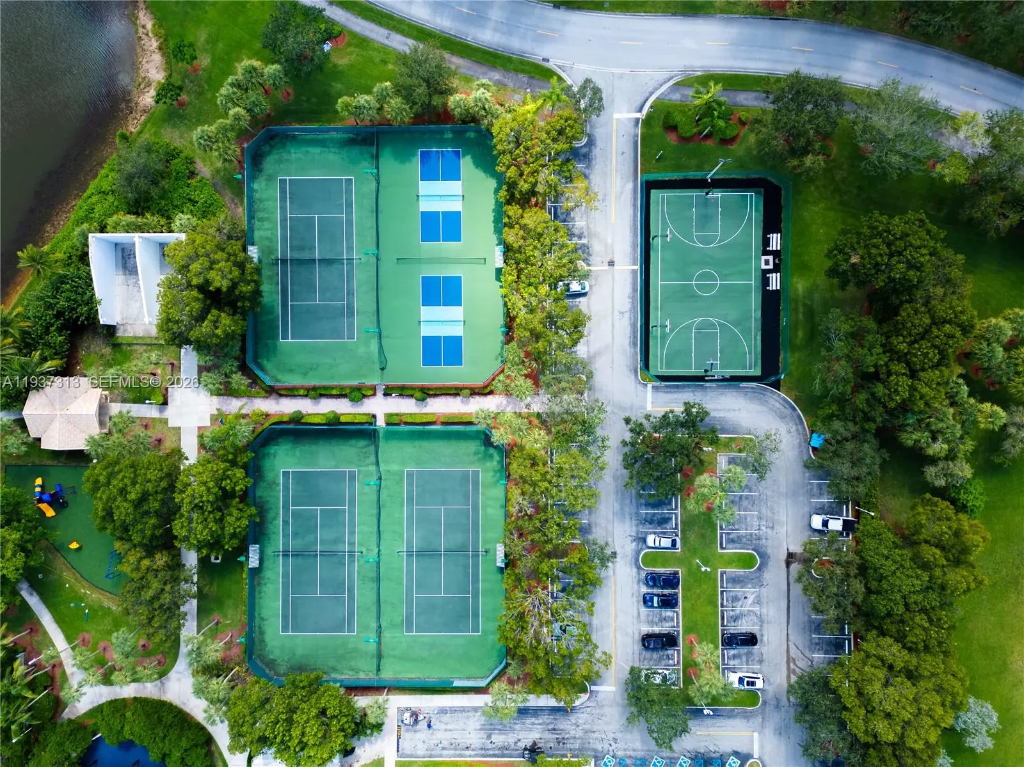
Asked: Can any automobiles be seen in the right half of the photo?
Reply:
Yes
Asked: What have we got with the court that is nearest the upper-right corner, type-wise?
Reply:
basketball court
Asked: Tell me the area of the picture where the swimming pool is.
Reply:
bottom left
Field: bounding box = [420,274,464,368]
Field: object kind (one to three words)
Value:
sports court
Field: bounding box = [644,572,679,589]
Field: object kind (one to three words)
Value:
car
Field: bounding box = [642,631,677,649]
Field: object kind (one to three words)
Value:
car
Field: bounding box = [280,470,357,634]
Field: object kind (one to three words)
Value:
tennis court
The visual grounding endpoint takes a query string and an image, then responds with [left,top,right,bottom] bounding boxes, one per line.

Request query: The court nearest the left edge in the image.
[86,231,211,338]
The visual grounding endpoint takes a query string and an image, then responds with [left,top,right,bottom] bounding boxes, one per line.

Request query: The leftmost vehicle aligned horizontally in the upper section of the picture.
[559,280,591,295]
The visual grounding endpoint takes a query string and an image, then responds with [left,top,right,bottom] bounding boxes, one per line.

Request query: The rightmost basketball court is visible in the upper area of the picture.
[650,188,763,375]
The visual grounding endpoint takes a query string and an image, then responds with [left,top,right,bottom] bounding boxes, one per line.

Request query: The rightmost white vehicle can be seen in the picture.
[810,514,855,532]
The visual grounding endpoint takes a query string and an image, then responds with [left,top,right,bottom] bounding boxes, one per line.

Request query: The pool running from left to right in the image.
[82,732,164,767]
